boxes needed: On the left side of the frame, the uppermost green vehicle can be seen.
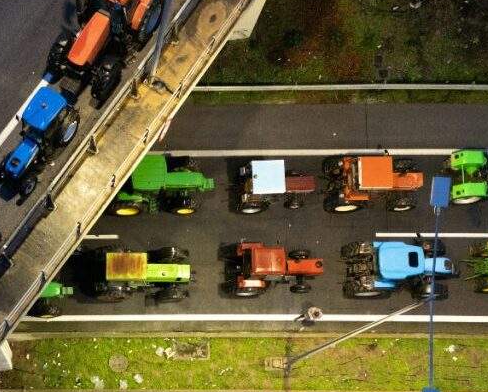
[111,155,214,216]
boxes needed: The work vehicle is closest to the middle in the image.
[228,160,317,215]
